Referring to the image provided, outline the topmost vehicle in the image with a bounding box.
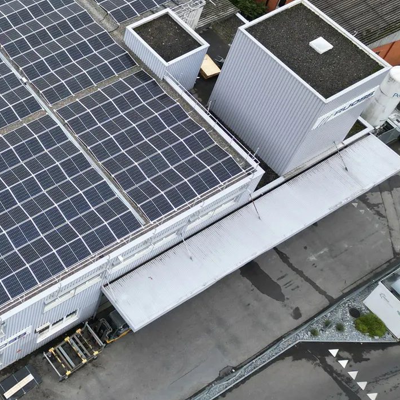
[93,305,127,346]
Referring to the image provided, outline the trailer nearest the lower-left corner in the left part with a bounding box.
[41,323,104,382]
